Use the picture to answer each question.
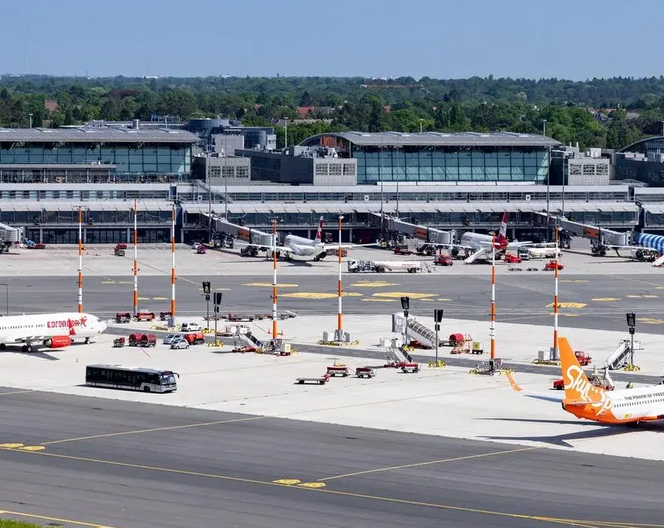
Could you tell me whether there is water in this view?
No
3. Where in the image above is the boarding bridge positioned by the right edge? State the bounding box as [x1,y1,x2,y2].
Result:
[528,209,643,252]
